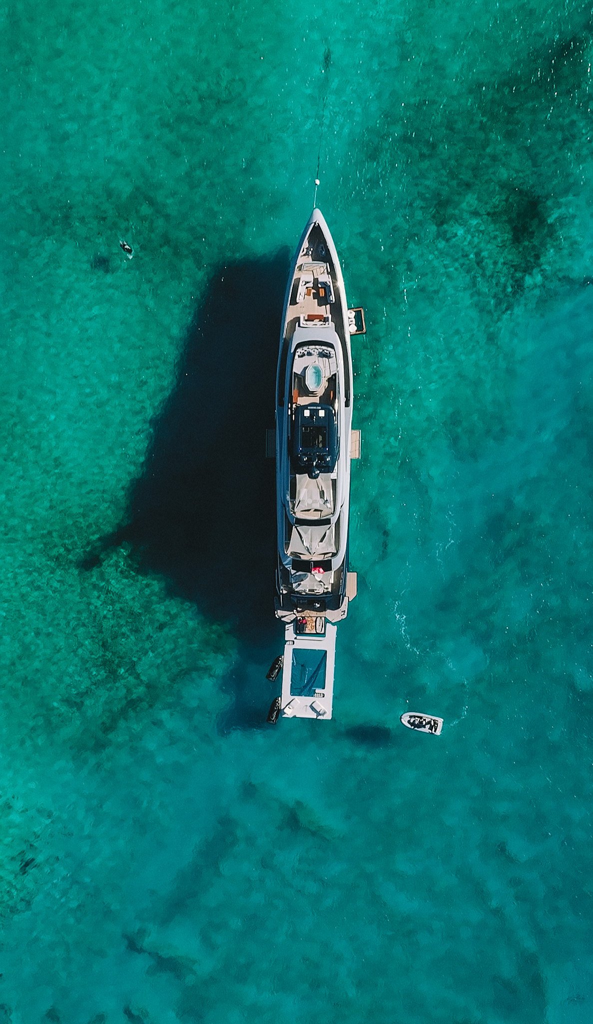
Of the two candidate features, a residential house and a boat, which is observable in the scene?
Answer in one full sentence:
The image shows a boat.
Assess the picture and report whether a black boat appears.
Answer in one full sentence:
Yes, looking at the shot, I can spot a black boat.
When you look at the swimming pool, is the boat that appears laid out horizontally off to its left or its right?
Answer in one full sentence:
The boat that appears laid out horizontally can be seen on the right of the swimming pool.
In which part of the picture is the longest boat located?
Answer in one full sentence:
The longest boat sits in the center section of the image.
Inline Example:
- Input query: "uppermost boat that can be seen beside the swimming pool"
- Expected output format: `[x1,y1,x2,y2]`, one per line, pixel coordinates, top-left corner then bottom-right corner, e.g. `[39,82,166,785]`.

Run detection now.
[266,205,366,623]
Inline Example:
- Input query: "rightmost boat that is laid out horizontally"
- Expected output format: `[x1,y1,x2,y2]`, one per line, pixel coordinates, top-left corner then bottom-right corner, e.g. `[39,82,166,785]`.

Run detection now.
[401,714,444,735]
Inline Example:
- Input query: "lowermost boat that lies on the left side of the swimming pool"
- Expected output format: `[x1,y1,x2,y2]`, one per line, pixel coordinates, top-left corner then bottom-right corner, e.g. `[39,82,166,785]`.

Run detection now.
[267,697,280,724]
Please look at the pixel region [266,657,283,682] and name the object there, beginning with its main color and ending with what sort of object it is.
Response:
black boat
